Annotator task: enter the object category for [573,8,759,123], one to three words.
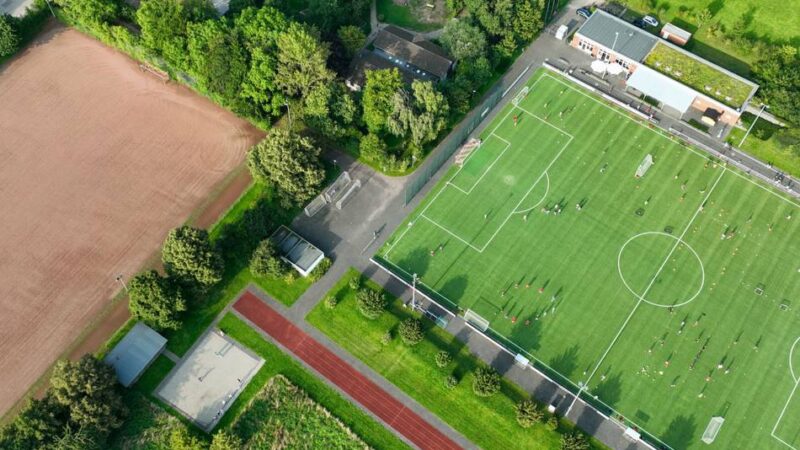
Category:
building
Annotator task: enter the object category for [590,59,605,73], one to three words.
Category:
umbrella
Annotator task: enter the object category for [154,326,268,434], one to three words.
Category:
sports court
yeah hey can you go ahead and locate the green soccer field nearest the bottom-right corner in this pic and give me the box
[371,66,800,450]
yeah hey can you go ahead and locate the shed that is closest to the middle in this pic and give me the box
[263,223,326,274]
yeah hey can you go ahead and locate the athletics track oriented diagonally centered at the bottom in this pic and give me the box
[231,291,464,450]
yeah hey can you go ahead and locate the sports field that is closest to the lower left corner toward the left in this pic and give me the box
[0,27,271,431]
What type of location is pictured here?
sports ground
